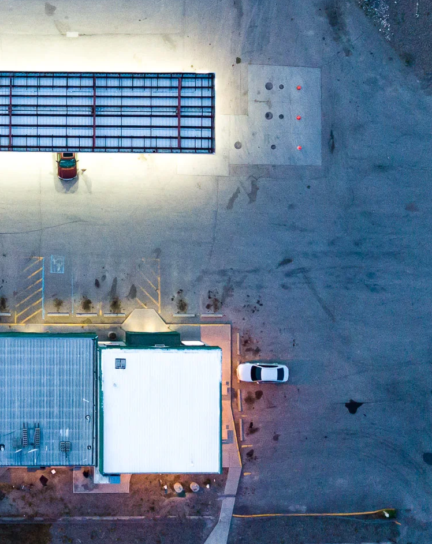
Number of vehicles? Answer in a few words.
2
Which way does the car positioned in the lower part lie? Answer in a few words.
from side to side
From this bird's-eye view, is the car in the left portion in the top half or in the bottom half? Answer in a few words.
top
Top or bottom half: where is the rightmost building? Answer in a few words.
bottom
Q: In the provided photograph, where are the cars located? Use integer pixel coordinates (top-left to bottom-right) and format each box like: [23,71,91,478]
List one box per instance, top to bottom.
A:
[54,155,80,181]
[236,362,289,386]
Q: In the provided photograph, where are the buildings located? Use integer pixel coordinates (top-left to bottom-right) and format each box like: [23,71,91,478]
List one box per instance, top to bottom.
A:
[0,326,95,467]
[96,330,222,475]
